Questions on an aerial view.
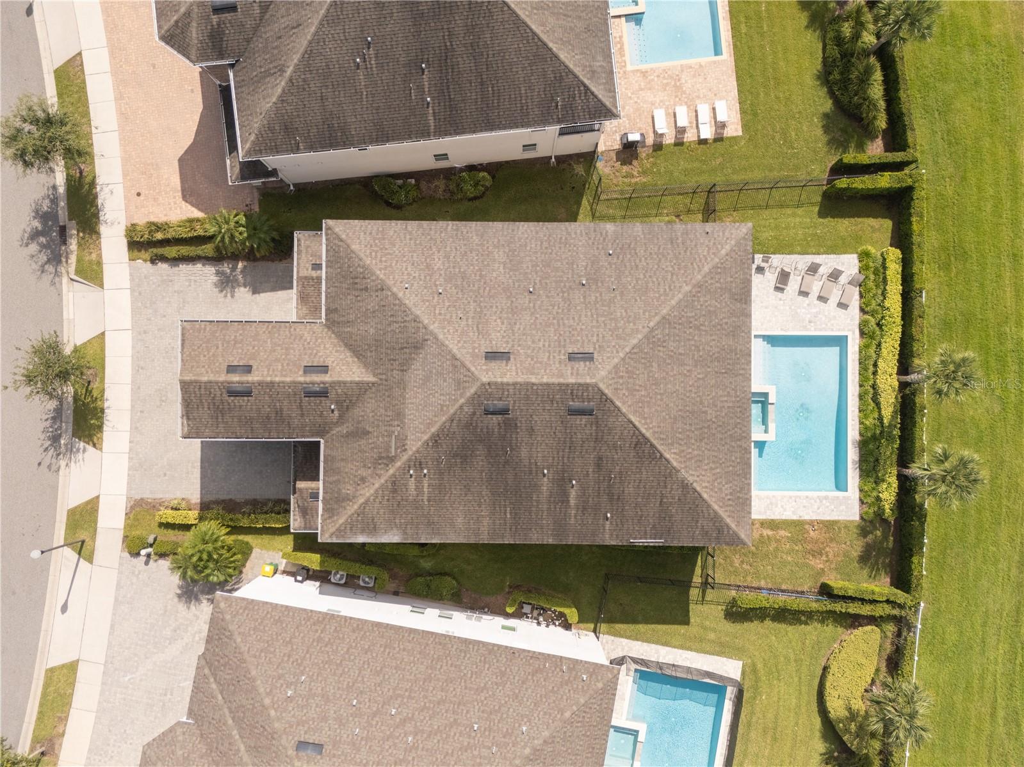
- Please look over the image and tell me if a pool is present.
Yes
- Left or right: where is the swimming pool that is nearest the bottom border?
right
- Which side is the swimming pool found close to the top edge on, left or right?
right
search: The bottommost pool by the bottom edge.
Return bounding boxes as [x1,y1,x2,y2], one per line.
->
[602,665,731,767]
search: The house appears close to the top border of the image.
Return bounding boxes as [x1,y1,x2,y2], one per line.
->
[149,0,623,191]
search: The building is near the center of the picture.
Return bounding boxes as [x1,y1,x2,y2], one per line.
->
[177,219,754,547]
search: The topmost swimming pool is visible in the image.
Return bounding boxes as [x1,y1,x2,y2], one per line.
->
[611,0,729,70]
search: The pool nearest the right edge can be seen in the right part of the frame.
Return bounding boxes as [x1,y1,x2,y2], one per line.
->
[752,332,851,495]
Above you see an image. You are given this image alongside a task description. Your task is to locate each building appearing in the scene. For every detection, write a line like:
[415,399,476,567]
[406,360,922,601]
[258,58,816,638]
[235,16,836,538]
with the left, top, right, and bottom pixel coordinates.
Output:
[177,219,754,547]
[138,575,621,767]
[149,0,623,191]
